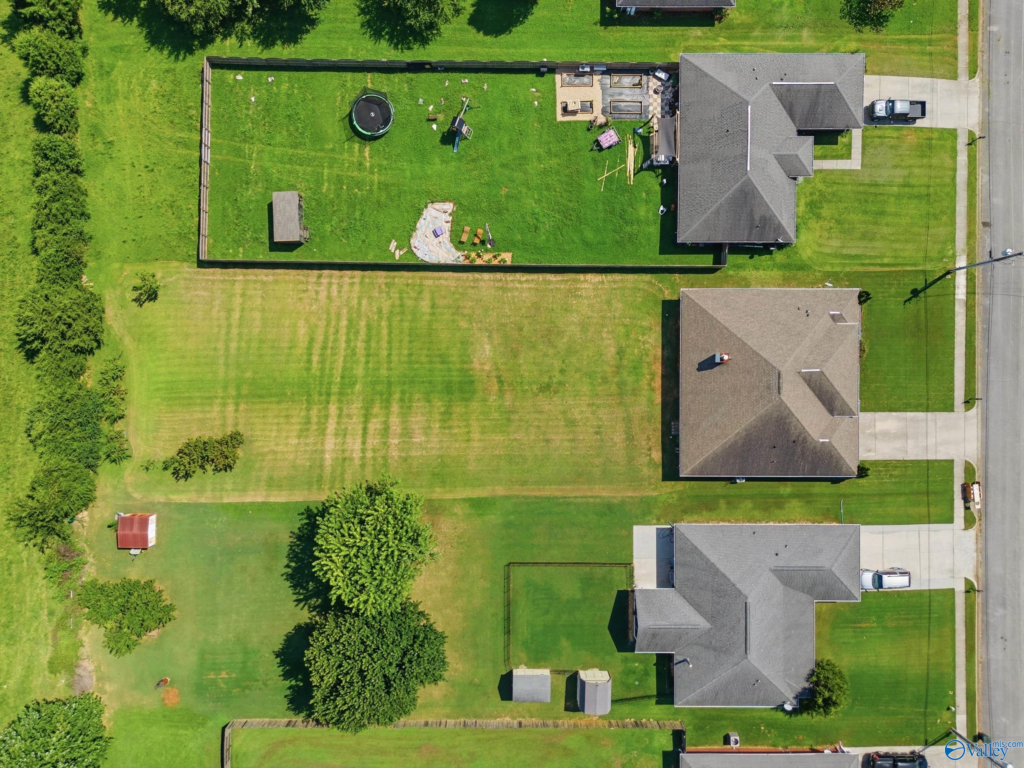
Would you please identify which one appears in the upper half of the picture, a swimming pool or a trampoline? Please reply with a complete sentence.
It is a trampoline that can be seen in the upper half of the picture.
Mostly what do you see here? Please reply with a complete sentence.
The bulk of the photo consists of grass.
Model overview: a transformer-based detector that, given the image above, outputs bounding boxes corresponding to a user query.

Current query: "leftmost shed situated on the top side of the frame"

[273,191,304,243]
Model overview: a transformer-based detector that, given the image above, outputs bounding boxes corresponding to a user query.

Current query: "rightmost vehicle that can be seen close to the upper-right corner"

[871,95,928,123]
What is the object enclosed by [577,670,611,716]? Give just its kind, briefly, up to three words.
shed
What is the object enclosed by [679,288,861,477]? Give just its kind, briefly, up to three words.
house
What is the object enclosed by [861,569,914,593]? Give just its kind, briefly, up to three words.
car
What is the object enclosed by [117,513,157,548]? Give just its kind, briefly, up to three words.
shed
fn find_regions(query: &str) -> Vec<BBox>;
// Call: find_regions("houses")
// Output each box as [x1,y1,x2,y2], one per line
[679,749,859,768]
[676,53,866,243]
[679,288,861,477]
[615,0,736,12]
[634,523,862,708]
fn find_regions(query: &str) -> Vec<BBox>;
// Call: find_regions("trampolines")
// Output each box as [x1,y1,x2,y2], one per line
[342,83,396,138]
